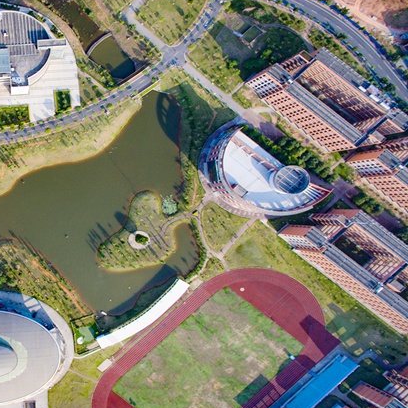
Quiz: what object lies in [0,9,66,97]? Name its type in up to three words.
building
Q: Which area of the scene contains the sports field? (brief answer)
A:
bottom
